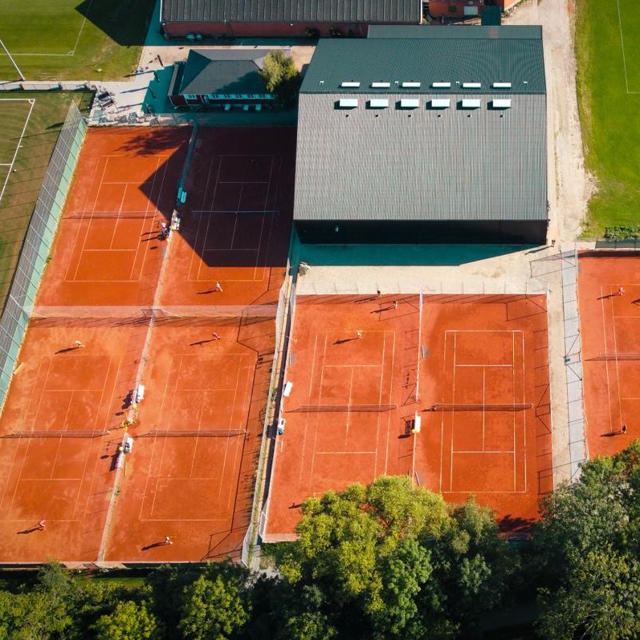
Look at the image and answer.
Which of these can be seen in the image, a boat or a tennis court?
tennis court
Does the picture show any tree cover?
Yes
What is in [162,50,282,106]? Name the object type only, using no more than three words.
building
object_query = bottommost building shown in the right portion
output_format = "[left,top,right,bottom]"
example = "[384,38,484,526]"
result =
[293,25,548,244]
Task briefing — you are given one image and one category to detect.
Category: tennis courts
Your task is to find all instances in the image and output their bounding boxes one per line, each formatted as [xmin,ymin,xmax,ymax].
[0,318,150,563]
[412,295,553,544]
[263,294,422,544]
[579,250,640,474]
[32,128,190,319]
[150,128,298,319]
[102,319,279,563]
